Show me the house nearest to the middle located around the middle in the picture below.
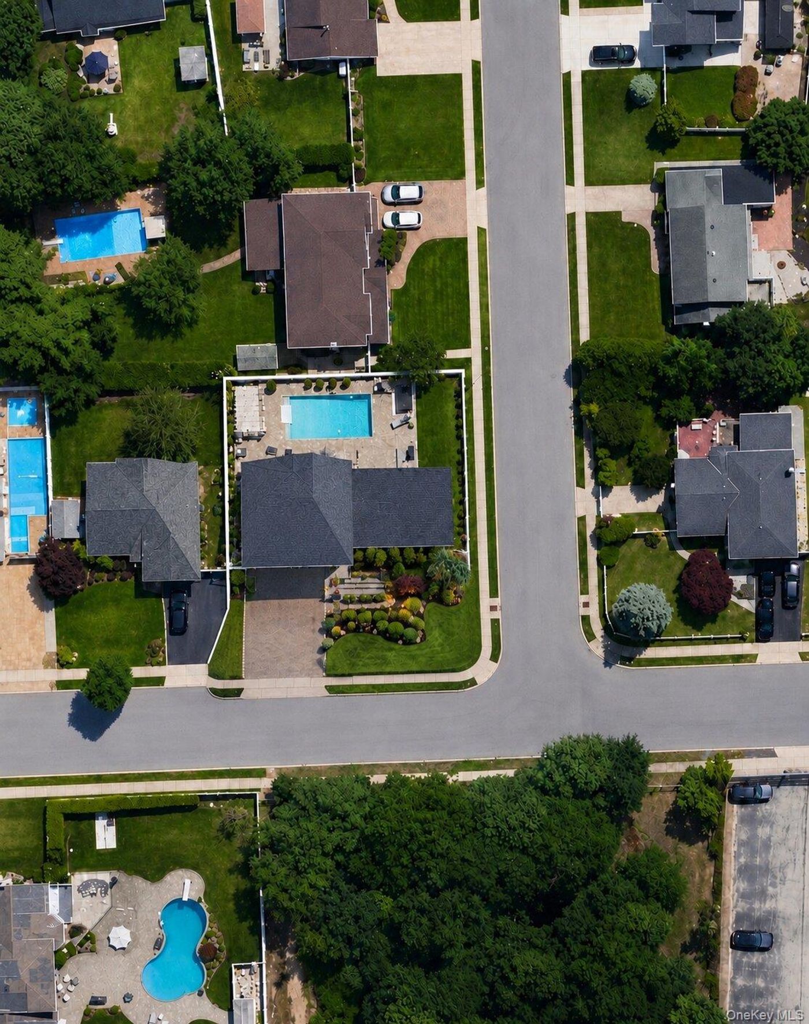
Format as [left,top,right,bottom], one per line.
[240,452,454,568]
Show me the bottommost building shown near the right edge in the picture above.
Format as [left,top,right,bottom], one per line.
[665,412,803,560]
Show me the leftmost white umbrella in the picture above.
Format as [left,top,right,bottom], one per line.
[108,925,131,948]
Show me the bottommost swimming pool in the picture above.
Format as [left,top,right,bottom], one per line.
[139,895,209,1004]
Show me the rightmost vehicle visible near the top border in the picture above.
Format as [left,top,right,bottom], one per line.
[591,42,637,64]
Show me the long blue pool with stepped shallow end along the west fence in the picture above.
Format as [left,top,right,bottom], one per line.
[6,436,47,555]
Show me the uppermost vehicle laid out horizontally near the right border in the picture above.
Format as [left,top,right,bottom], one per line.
[729,783,774,805]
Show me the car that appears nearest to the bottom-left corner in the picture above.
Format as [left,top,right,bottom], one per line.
[167,588,189,634]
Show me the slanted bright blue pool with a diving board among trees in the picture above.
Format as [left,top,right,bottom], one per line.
[52,206,148,265]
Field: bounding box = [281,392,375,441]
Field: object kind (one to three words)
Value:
swimming pool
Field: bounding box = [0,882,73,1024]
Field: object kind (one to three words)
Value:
house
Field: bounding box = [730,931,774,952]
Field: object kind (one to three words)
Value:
car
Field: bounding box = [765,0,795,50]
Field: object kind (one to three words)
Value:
building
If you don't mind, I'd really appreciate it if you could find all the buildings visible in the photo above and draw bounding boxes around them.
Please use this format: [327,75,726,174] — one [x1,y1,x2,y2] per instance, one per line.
[765,0,795,50]
[651,0,745,49]
[236,343,278,371]
[285,0,379,61]
[235,0,265,34]
[51,500,80,539]
[85,457,201,582]
[38,0,193,37]
[665,412,803,560]
[243,192,390,350]
[240,452,454,568]
[0,882,73,1024]
[665,164,776,329]
[232,998,256,1024]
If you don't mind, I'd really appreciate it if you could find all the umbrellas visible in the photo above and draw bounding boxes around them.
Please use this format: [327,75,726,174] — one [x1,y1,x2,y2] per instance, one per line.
[84,51,109,75]
[381,380,392,392]
[108,925,131,948]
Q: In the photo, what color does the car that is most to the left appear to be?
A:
black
